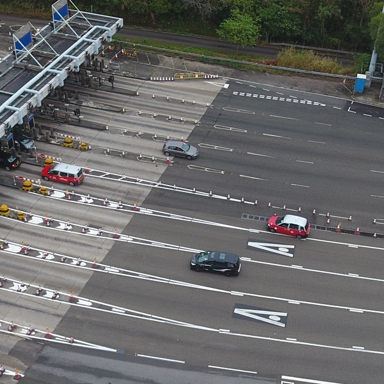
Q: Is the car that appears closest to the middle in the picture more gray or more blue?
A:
gray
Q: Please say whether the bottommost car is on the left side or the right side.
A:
right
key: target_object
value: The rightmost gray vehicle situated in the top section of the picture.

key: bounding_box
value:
[160,137,198,159]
